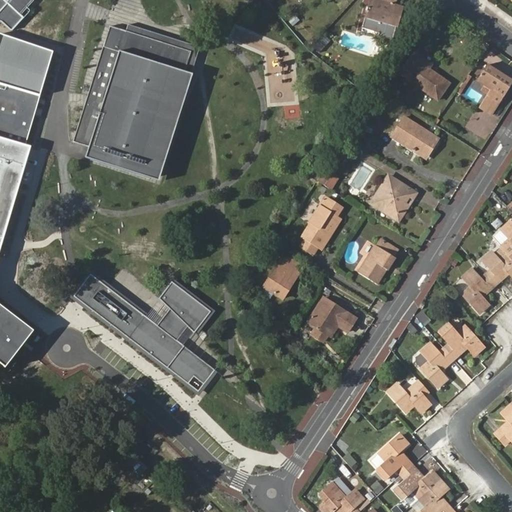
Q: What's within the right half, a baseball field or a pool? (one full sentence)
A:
What appears within the right half is a pool.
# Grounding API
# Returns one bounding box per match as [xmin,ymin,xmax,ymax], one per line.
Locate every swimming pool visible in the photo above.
[344,240,360,264]
[466,88,484,104]
[340,31,380,56]
[349,163,374,196]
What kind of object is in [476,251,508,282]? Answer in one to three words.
house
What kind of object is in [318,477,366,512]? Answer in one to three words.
house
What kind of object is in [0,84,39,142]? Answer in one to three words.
building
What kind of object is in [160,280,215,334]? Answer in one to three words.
building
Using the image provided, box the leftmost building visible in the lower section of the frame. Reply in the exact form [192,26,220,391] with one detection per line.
[0,303,34,372]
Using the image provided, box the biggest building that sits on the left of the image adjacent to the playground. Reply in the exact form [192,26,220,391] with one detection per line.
[73,26,197,183]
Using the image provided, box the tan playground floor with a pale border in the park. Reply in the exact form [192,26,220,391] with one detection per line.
[228,25,299,107]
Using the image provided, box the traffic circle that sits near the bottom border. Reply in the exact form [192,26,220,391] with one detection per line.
[252,471,296,512]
